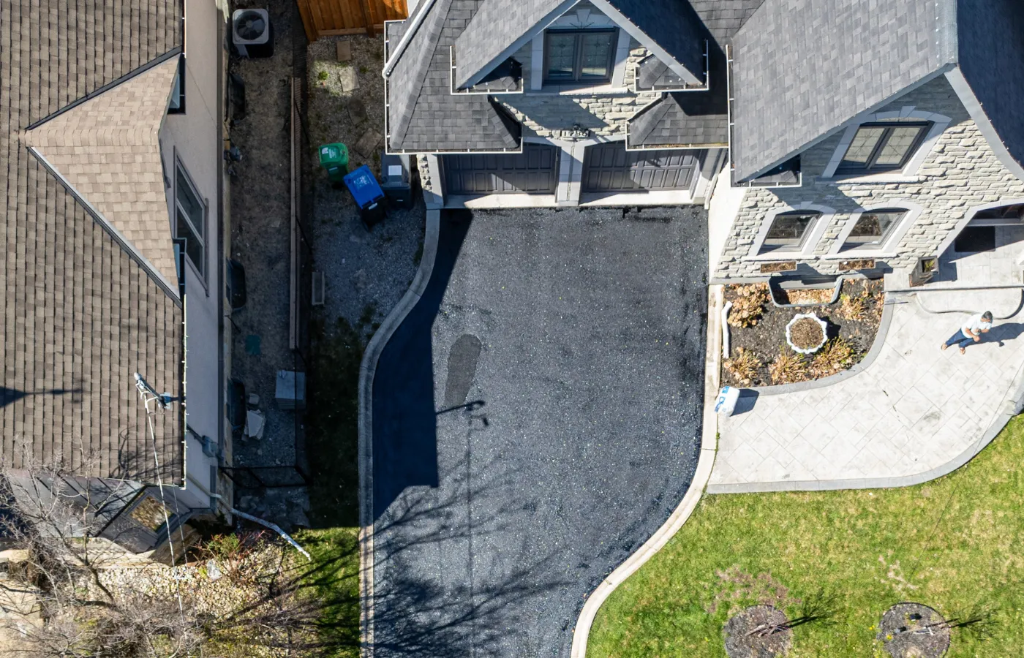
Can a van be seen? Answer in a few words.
No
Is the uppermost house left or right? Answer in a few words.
right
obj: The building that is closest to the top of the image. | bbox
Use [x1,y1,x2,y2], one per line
[378,0,1024,284]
